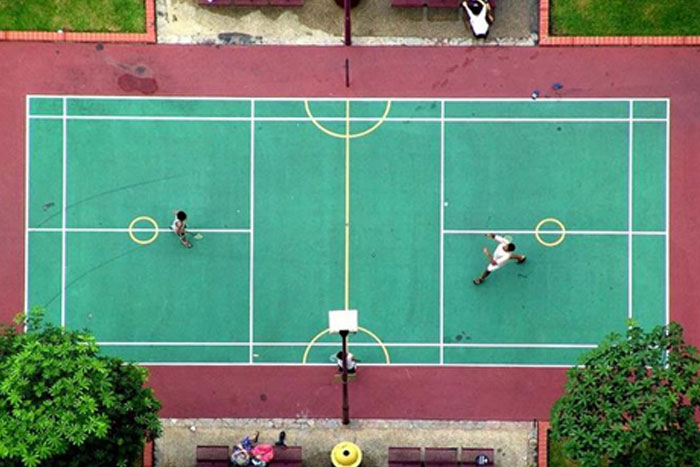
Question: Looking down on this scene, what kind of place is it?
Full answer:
What you see here is a sports ground.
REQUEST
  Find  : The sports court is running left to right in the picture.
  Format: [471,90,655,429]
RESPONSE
[25,96,669,366]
